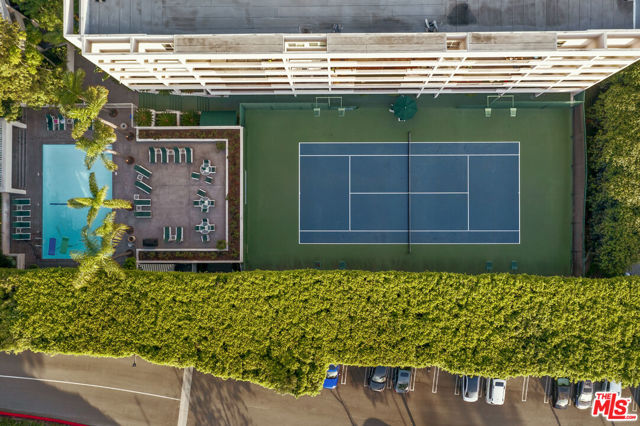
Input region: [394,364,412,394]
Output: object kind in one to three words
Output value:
car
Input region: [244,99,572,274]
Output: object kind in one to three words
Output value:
tennis court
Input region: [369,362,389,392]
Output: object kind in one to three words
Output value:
car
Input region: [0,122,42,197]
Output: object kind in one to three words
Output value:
house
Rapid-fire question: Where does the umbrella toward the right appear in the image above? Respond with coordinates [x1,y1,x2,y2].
[392,97,416,121]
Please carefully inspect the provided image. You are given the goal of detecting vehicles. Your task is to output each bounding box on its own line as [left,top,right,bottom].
[369,362,389,392]
[482,374,504,407]
[549,375,571,410]
[323,364,341,391]
[459,372,479,403]
[572,377,594,410]
[394,364,412,394]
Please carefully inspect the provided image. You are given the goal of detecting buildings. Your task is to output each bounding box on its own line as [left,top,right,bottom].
[62,0,640,99]
[0,122,42,197]
[199,111,239,127]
